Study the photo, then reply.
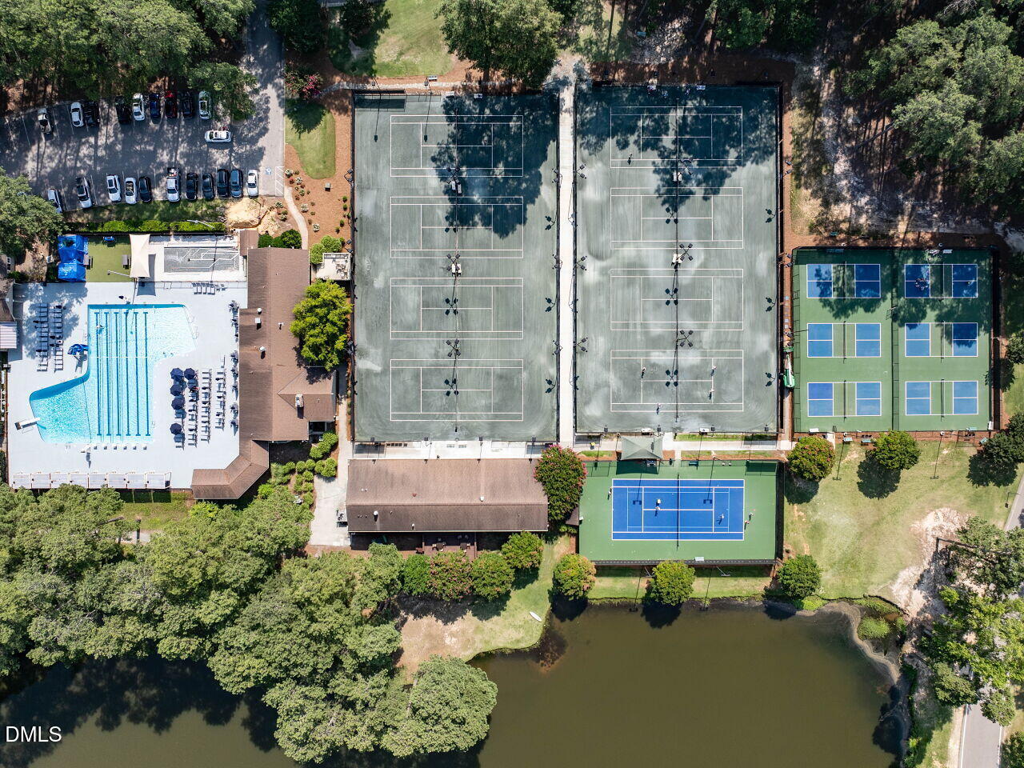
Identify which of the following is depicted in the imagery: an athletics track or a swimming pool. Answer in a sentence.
This aerial view contains a swimming pool.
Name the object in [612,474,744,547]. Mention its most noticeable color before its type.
blue tennis court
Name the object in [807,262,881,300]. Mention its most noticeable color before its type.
blue sports court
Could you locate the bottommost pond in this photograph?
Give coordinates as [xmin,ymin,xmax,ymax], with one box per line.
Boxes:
[0,596,912,768]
